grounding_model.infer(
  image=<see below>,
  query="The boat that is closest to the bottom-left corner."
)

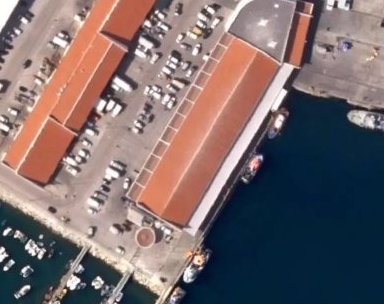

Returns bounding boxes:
[14,285,30,300]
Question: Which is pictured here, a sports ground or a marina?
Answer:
marina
